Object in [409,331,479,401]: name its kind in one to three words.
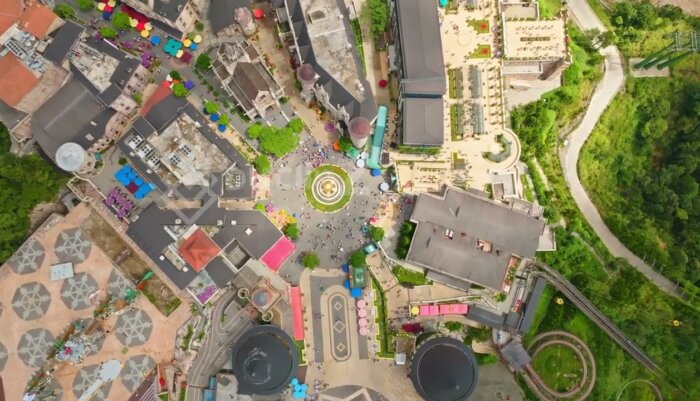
building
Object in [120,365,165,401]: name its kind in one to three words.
house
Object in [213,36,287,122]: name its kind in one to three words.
building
